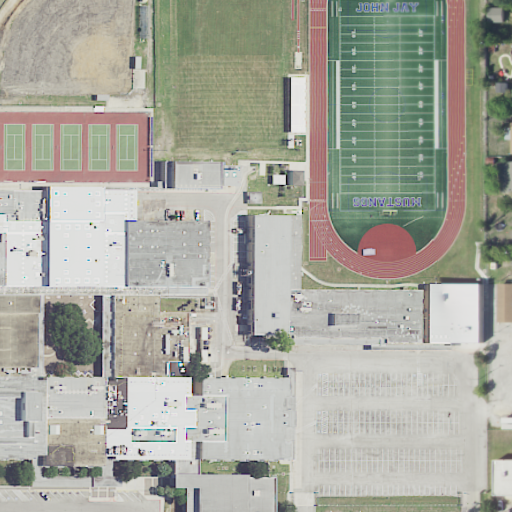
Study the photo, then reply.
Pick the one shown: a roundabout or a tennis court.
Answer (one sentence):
The image shows a tennis court.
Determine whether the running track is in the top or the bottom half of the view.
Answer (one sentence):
The running track is in the top half of the image.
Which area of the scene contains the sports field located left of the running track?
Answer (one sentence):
The sports field located left of the running track appears toward the top of the photo.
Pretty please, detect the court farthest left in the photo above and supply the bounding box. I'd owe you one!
[4,124,26,171]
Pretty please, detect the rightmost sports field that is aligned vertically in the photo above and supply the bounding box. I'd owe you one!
[328,0,447,259]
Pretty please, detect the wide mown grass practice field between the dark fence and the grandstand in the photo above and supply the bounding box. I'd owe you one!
[154,0,288,160]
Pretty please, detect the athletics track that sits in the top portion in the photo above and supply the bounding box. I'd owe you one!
[309,0,466,278]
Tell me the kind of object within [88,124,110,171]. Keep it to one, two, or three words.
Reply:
tennis court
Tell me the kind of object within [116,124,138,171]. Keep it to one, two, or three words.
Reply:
tennis court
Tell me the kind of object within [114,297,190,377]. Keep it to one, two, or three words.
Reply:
building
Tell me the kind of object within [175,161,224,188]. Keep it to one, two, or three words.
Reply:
building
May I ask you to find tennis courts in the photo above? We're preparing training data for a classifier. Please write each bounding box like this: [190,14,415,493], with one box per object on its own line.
[116,124,138,171]
[4,124,26,171]
[60,124,82,171]
[88,124,110,171]
[32,124,54,171]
